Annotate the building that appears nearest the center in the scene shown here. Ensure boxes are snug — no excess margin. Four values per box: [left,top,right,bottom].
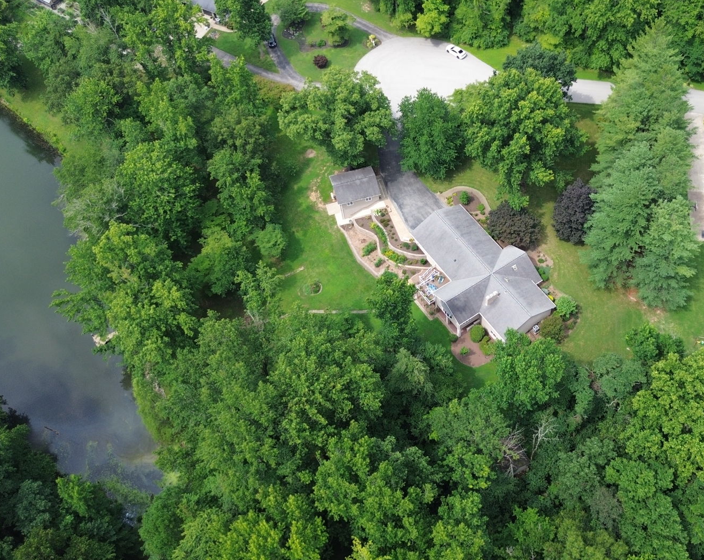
[328,169,380,222]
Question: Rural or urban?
rural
